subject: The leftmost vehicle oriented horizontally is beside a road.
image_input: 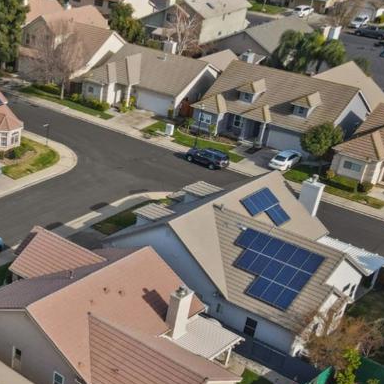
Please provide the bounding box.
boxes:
[180,148,227,171]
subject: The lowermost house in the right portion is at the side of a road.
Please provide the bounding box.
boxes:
[100,172,361,363]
